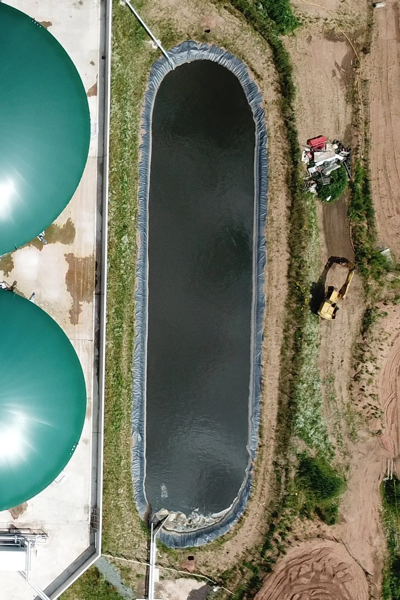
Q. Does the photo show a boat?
No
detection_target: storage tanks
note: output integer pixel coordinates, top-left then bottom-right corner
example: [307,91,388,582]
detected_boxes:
[0,288,86,512]
[0,0,100,263]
